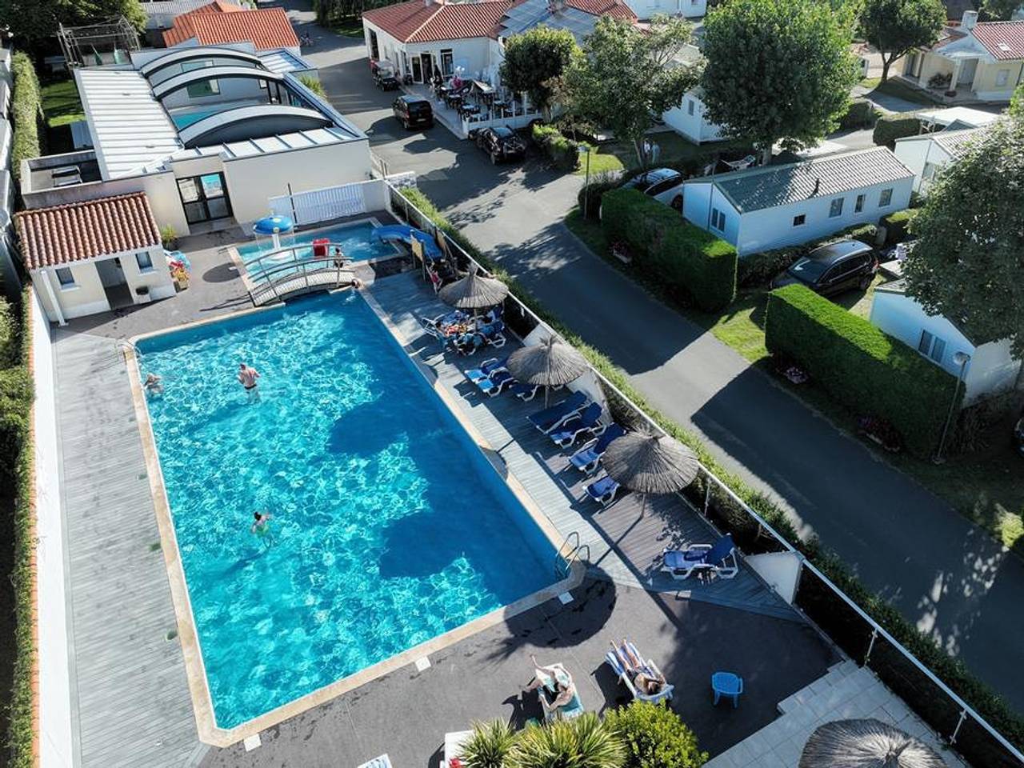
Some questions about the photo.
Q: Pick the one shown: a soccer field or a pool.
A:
pool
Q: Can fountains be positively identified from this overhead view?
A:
Yes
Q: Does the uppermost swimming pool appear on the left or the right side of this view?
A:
left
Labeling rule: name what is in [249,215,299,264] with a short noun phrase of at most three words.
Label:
fountain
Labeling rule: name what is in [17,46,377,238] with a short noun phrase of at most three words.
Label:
building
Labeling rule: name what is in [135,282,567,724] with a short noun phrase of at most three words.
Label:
swimming pool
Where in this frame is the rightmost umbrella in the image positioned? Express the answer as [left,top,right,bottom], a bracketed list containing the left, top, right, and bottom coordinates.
[795,704,954,768]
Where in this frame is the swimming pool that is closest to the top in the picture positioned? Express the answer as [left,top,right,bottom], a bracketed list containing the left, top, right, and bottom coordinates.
[163,101,245,143]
